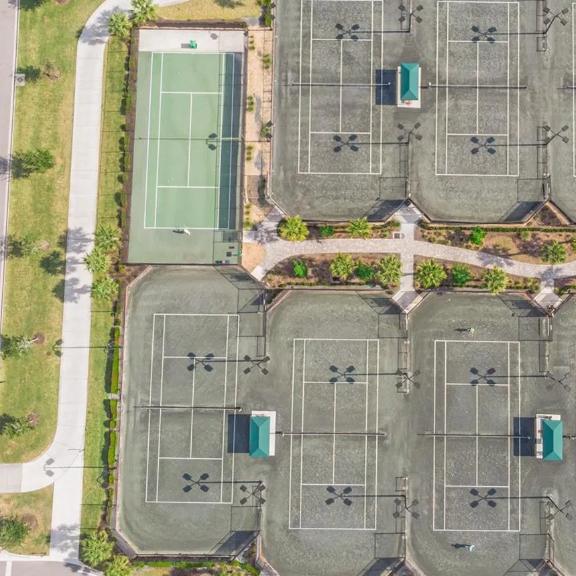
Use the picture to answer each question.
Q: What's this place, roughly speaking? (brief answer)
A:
sports ground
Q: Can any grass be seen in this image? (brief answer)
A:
Yes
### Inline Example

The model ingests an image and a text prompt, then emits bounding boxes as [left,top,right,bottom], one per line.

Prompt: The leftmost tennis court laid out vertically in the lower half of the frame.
[116,265,266,555]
